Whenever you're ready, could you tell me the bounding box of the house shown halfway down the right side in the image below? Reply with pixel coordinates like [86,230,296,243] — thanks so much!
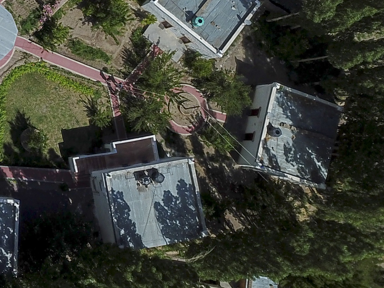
[235,81,343,188]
